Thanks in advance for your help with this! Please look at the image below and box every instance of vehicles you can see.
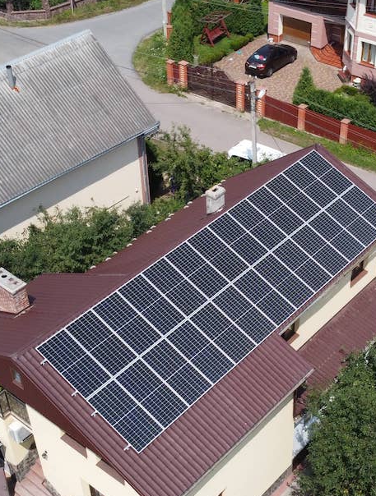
[220,140,289,169]
[241,37,300,74]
